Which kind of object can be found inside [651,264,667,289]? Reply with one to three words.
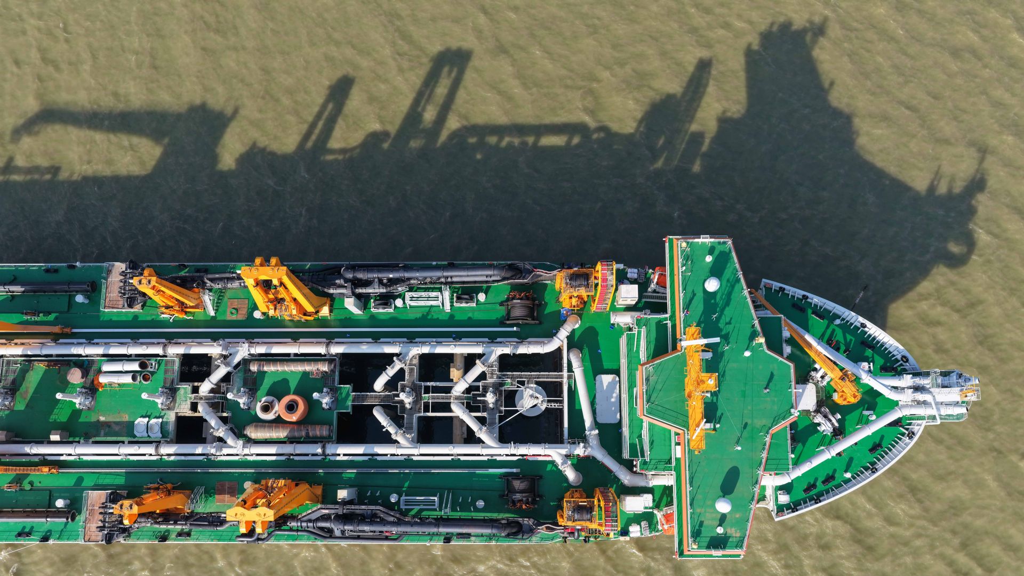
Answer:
boat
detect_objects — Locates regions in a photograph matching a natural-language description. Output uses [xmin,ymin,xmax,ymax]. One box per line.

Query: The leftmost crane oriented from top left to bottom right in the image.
[134,268,212,323]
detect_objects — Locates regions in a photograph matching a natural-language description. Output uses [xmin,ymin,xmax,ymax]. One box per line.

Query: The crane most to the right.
[750,287,876,410]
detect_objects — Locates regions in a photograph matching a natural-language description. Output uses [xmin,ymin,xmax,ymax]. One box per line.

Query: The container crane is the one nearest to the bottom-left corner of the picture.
[114,478,198,527]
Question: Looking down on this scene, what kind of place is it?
port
